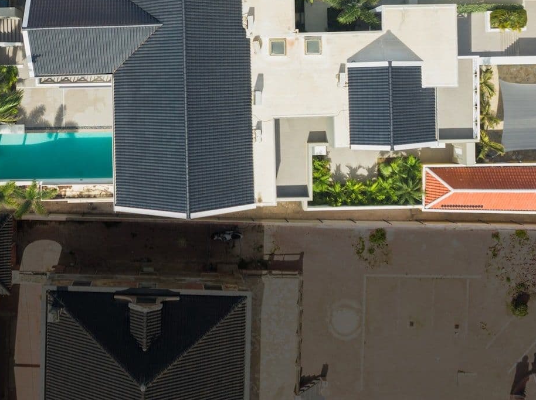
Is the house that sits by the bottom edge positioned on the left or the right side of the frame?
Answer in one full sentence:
You can find the house that sits by the bottom edge on the left side of the picture.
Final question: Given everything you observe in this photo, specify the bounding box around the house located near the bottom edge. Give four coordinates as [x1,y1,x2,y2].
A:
[42,276,257,400]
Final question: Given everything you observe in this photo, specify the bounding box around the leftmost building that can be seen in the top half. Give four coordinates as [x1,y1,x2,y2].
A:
[19,0,255,221]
